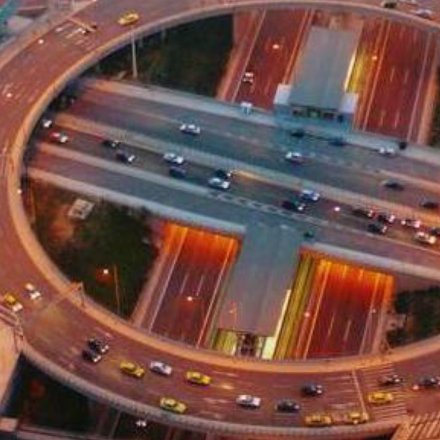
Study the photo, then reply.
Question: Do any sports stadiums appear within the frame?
No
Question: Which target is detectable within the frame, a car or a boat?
car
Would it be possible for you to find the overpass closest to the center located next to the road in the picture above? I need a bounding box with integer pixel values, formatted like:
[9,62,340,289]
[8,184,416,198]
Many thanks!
[26,71,440,282]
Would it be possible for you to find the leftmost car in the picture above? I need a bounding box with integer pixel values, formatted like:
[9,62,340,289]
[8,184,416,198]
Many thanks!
[1,294,22,312]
